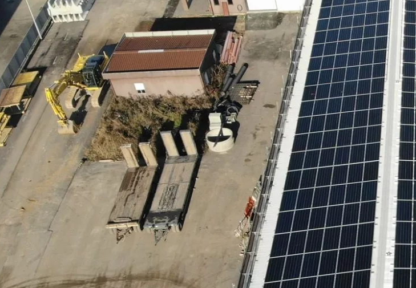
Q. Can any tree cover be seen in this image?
No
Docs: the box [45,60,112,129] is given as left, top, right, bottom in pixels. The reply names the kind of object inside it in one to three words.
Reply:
work vehicle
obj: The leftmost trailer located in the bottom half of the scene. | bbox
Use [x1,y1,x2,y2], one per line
[95,143,162,249]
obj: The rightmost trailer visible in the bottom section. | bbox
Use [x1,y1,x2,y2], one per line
[133,133,201,251]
